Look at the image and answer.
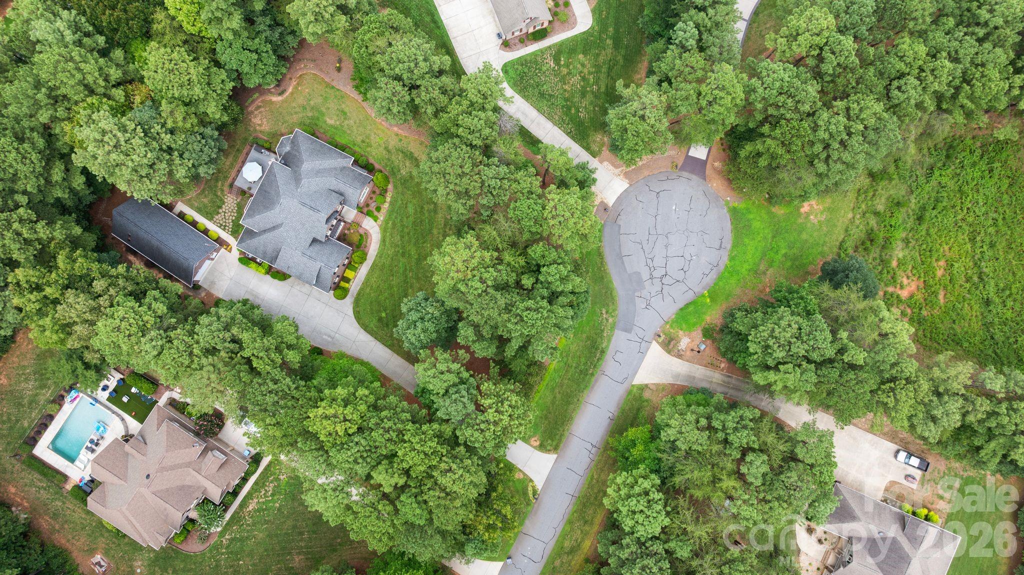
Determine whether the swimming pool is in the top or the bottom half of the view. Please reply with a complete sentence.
The swimming pool sits in the bottom half of the picture.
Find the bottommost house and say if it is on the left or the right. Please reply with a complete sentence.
The bottommost house is on the right side of the image.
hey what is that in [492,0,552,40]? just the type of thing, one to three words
house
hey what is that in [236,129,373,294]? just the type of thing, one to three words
house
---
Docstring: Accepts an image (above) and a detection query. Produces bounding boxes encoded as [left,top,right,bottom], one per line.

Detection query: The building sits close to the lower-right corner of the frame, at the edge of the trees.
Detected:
[816,482,962,575]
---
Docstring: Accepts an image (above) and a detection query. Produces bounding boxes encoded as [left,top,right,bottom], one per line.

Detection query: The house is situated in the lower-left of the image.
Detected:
[87,404,252,551]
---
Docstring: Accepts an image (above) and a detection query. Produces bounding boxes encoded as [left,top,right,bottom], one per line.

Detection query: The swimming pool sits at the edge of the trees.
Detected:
[45,401,118,474]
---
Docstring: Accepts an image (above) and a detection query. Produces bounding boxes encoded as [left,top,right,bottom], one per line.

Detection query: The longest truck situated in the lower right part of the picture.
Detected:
[891,447,931,474]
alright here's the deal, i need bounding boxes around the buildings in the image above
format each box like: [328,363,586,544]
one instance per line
[111,196,222,286]
[236,129,373,294]
[816,482,962,575]
[87,404,252,551]
[492,0,552,40]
